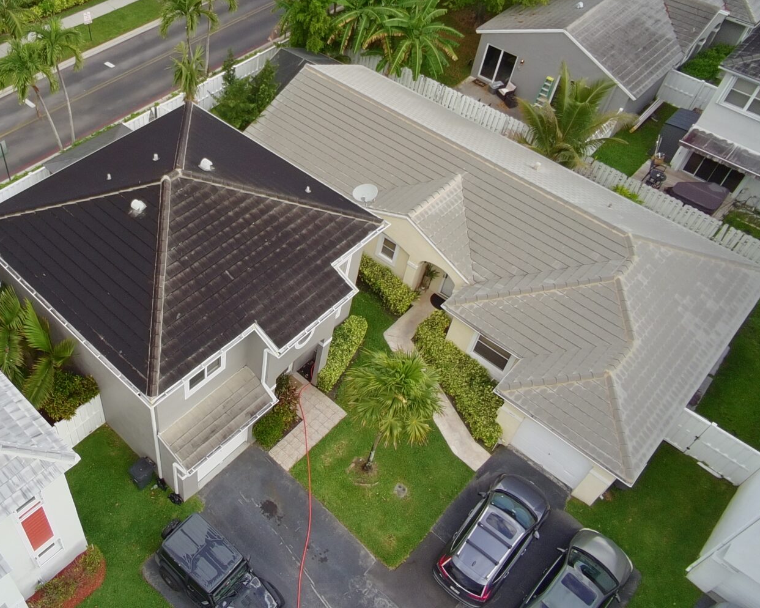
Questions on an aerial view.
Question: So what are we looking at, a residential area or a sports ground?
residential area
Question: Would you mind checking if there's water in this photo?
No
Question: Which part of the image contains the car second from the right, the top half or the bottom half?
bottom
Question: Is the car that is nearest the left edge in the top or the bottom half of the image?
bottom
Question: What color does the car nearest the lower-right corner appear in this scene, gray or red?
gray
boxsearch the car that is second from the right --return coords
[434,475,544,608]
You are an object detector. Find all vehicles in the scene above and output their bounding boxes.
[158,512,276,608]
[434,475,544,608]
[527,532,628,608]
